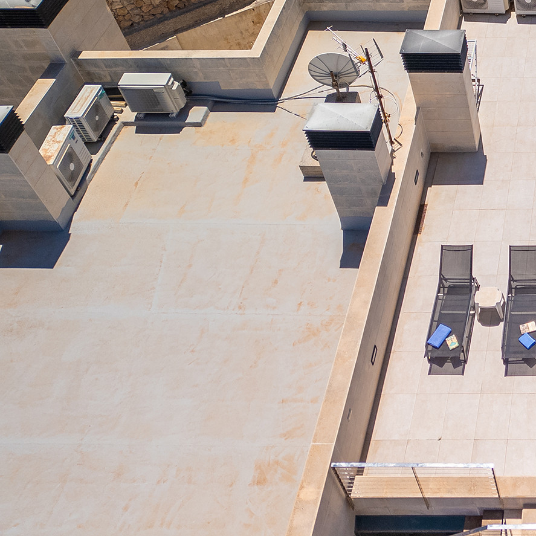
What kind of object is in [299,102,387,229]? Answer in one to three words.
chimney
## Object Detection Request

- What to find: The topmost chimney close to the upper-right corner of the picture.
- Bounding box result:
[401,27,482,151]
